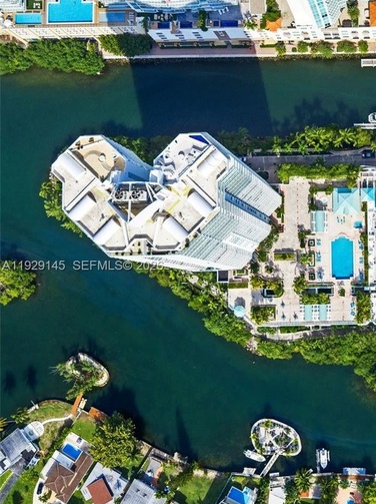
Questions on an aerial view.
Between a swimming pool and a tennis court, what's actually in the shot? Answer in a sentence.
Of the two, only a swimming pool appears.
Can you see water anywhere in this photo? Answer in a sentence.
Yes, there's water in this view.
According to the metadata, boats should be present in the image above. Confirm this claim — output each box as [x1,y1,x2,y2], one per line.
[241,447,267,460]
[367,112,376,122]
[79,396,89,410]
[320,446,328,469]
